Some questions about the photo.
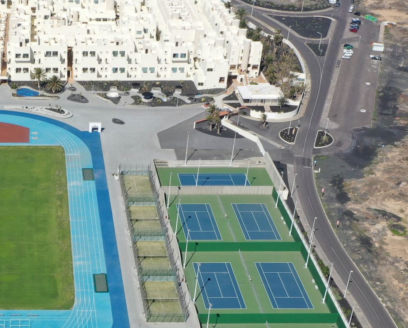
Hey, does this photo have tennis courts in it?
Yes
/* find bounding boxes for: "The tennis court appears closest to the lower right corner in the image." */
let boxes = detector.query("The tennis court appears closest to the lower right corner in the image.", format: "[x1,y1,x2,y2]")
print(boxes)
[255,261,315,309]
